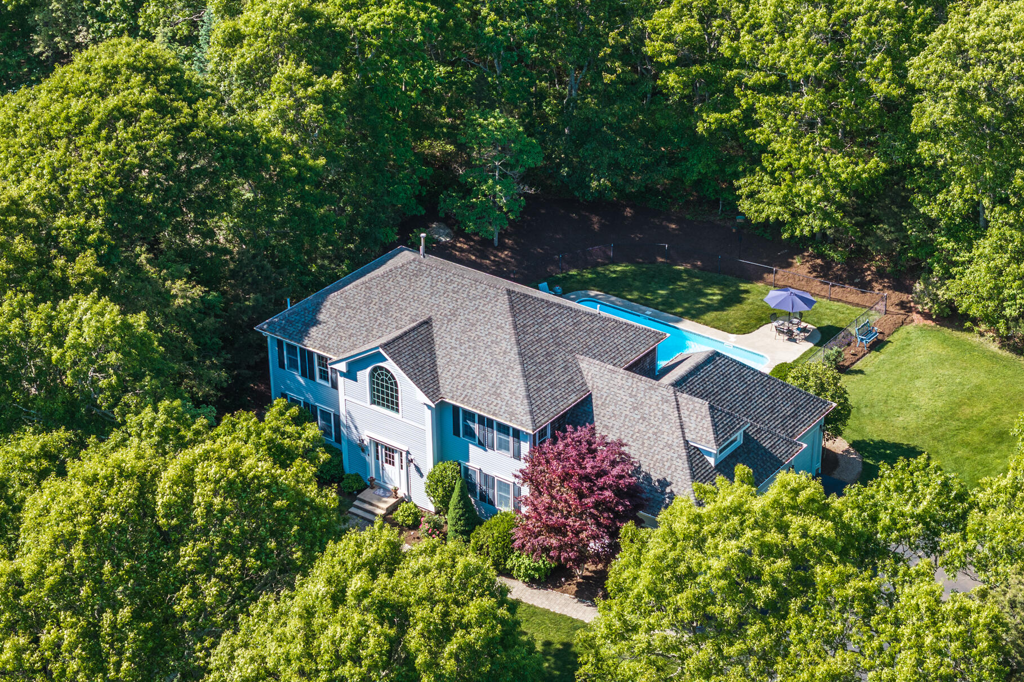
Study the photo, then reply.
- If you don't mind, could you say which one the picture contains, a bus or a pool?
pool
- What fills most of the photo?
trees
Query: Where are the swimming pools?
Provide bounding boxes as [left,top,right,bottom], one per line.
[565,296,766,369]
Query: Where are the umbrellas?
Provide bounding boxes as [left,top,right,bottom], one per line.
[765,288,818,338]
